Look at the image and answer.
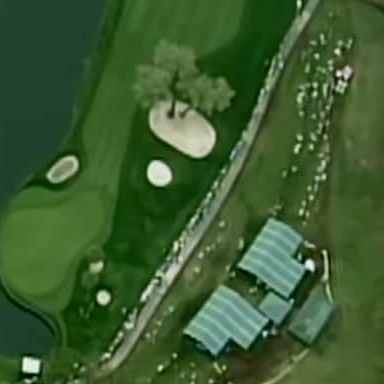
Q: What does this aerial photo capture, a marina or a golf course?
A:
golf course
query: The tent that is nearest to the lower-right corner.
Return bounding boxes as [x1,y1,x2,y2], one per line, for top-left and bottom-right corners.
[288,286,335,348]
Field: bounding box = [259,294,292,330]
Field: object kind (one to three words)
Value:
tent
